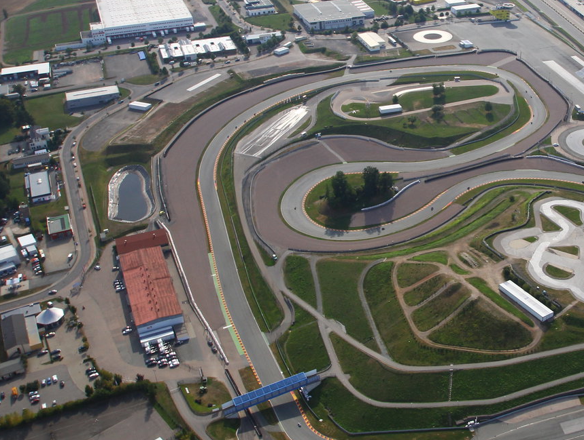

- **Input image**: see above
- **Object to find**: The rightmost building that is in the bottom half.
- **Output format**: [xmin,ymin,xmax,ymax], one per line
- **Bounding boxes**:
[509,277,555,322]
